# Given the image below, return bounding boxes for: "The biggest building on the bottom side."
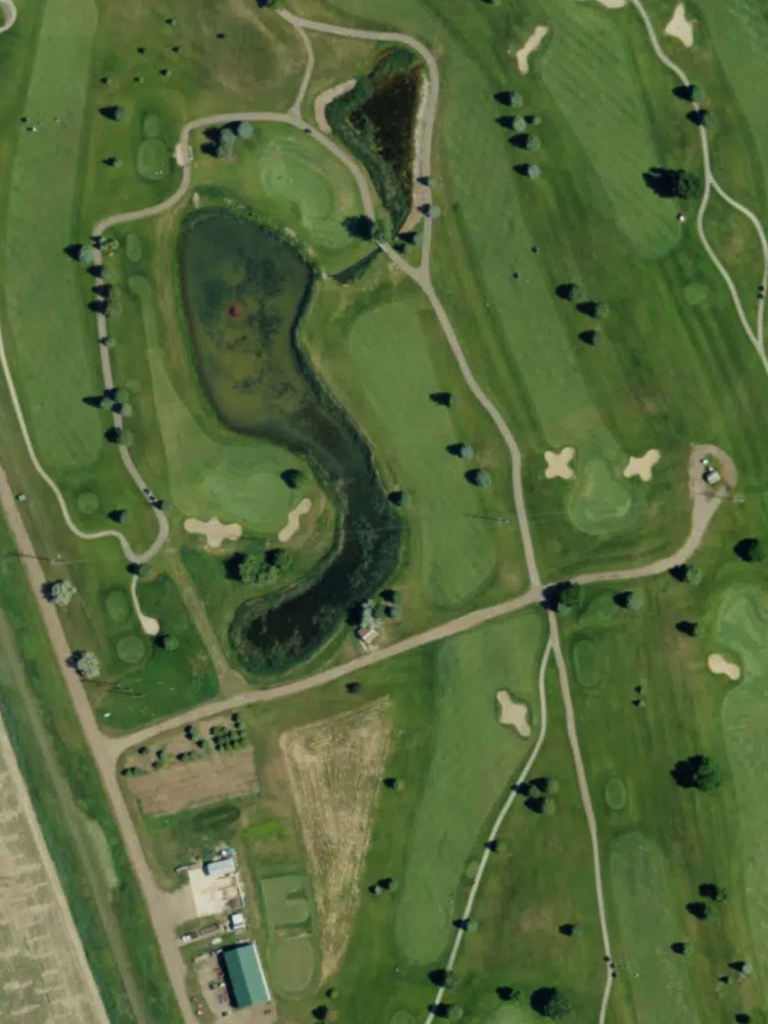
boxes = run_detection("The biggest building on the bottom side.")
[223,944,268,1008]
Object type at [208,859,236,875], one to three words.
shed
